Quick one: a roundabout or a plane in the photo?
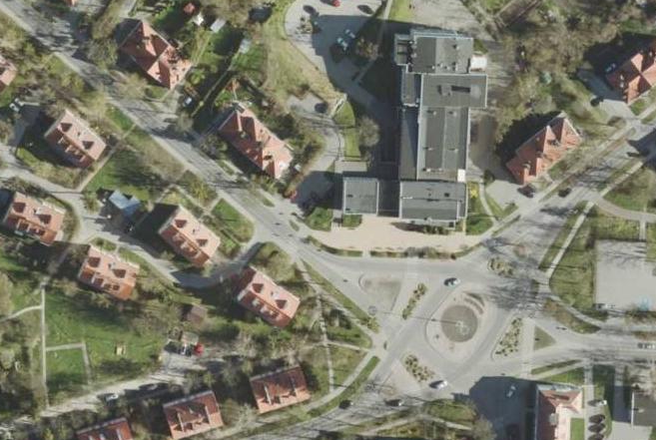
roundabout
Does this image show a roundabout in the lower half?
Yes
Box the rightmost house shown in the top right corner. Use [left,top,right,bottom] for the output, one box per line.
[605,34,656,104]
